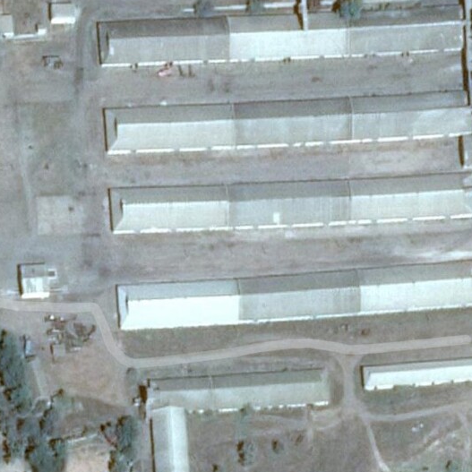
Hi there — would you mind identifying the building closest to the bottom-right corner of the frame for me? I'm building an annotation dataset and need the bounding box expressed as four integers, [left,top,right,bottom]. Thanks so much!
[362,357,472,387]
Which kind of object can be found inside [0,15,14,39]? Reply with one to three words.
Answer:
house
